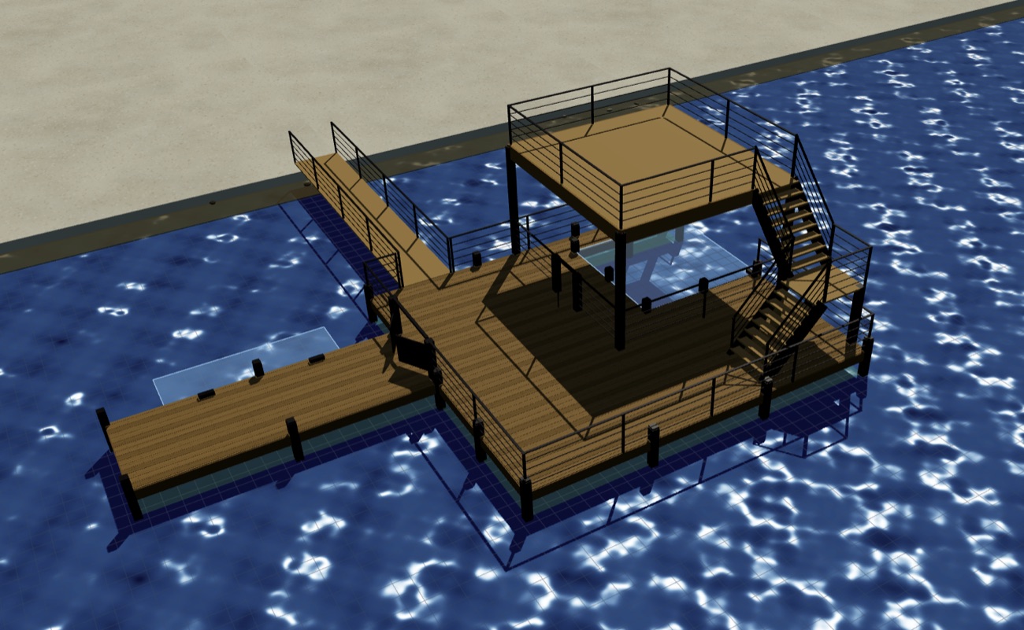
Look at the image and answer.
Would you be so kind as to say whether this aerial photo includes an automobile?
No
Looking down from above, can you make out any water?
Yes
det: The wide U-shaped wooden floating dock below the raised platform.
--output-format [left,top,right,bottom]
[370,225,864,516]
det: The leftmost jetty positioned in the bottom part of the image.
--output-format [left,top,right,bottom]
[110,333,438,518]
